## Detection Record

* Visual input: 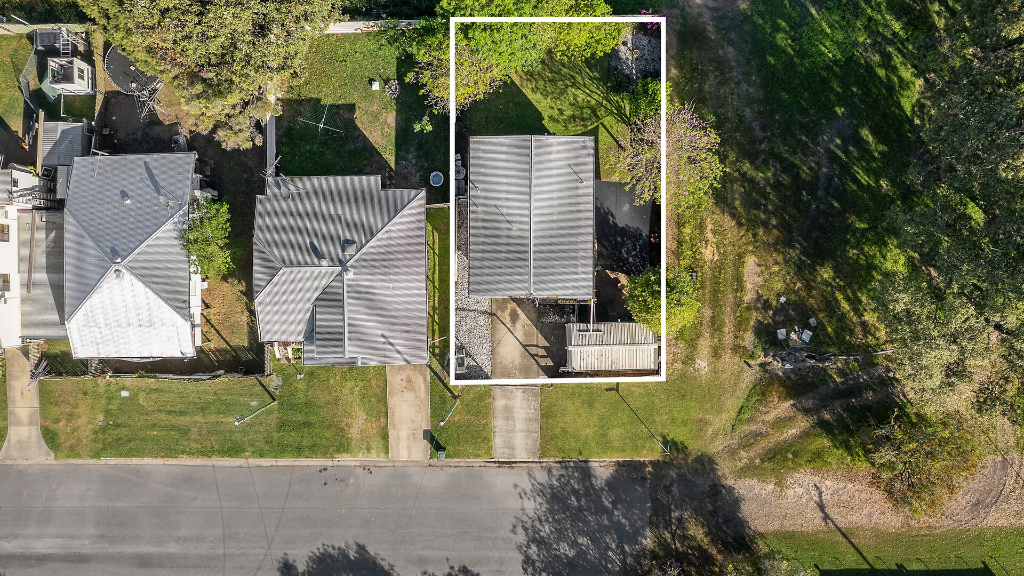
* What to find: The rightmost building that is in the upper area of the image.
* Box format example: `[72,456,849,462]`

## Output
[466,134,597,307]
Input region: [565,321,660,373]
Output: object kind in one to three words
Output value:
shed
